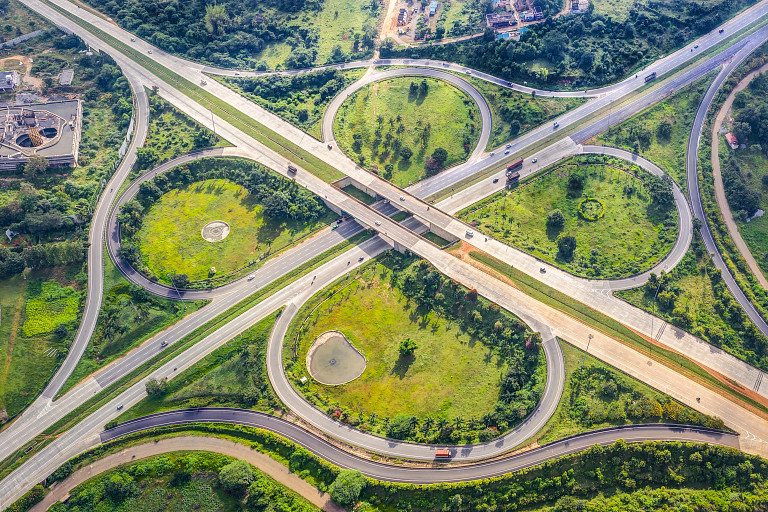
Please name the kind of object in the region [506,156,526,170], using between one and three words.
vehicle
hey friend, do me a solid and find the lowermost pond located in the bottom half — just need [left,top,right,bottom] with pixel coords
[305,330,362,382]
